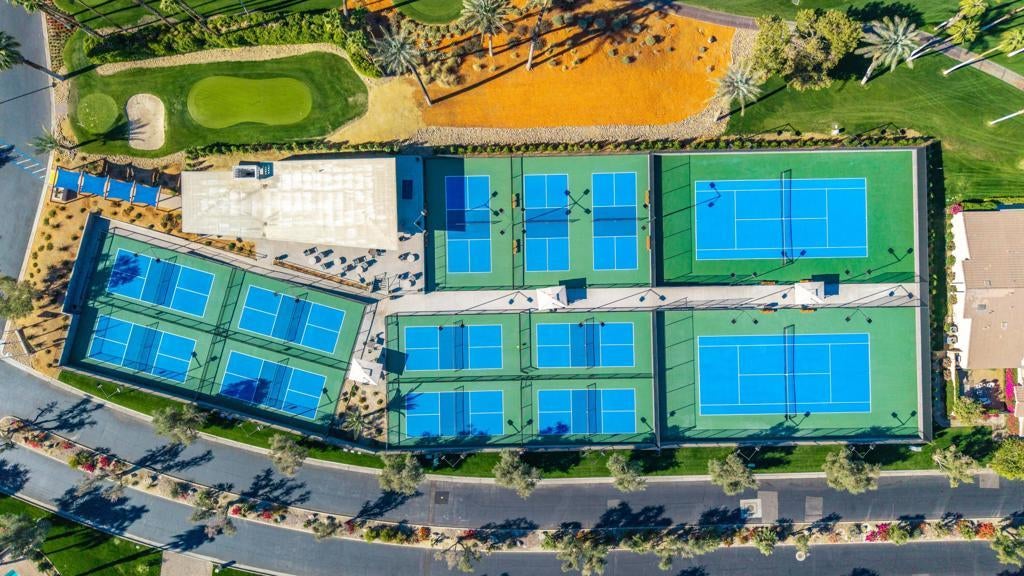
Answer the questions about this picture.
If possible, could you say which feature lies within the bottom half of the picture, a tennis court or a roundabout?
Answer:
tennis court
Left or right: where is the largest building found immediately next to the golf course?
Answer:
left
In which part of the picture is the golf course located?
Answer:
top left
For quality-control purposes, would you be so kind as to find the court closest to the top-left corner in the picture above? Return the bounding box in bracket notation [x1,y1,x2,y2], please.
[105,248,214,317]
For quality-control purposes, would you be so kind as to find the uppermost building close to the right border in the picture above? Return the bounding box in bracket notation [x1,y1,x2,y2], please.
[950,209,1024,369]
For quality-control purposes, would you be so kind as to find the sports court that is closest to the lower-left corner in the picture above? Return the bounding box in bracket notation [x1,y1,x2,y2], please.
[87,315,196,383]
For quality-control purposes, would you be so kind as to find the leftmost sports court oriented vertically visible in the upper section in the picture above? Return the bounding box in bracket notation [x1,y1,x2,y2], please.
[444,176,493,273]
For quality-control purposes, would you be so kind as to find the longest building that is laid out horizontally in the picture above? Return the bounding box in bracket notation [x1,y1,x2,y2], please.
[181,154,428,250]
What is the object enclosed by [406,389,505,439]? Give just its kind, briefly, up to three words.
sports court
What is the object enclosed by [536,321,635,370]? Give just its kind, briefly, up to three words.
sports court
